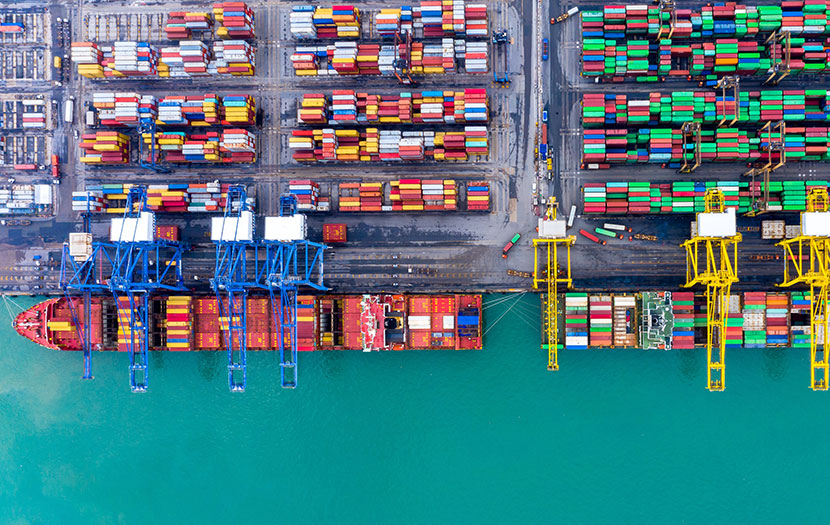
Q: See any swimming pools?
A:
No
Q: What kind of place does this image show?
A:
port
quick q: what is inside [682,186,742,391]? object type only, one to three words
container crane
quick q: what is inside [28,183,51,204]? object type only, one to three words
shed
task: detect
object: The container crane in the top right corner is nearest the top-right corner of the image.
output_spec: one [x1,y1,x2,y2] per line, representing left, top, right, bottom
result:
[760,35,790,88]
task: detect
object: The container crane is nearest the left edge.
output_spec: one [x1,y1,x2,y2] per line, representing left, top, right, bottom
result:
[62,191,143,379]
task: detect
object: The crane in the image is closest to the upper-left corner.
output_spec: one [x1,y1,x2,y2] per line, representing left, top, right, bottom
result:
[138,117,178,173]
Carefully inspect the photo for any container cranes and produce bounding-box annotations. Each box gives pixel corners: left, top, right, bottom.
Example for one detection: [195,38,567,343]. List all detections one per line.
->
[394,29,419,86]
[529,190,575,371]
[62,191,143,379]
[755,122,786,171]
[138,117,178,173]
[651,0,675,44]
[105,178,190,392]
[760,35,790,88]
[739,168,768,218]
[674,120,700,174]
[682,186,742,391]
[206,177,280,391]
[260,187,330,388]
[779,186,830,391]
[712,76,740,132]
